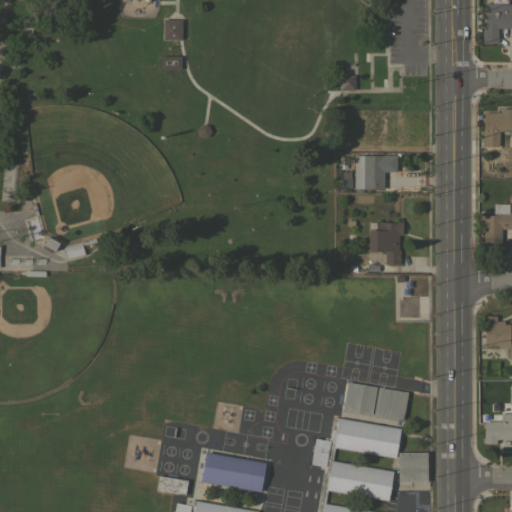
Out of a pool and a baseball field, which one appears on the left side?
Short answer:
baseball field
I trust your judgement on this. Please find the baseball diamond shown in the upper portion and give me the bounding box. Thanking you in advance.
[48,165,114,235]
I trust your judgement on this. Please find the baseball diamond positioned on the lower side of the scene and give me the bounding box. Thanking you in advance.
[0,278,116,405]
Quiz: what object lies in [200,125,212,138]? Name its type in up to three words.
gazebo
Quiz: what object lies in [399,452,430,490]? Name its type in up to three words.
building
